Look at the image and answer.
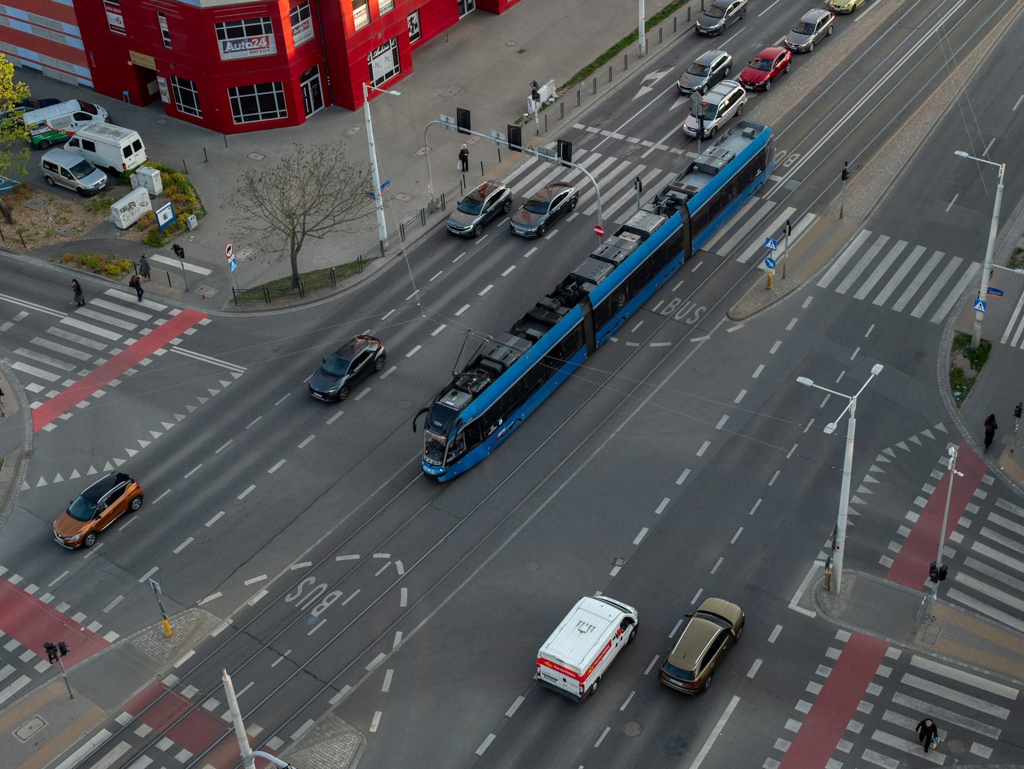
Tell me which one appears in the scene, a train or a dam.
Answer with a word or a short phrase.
train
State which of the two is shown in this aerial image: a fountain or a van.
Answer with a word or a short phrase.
van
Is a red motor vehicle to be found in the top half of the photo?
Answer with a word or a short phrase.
Yes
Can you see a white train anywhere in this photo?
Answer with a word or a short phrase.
No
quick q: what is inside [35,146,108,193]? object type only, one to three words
vehicle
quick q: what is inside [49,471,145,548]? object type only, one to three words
car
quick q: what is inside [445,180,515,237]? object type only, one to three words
car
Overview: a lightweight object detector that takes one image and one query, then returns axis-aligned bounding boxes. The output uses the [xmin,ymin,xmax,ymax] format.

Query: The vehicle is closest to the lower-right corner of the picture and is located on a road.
[655,599,745,698]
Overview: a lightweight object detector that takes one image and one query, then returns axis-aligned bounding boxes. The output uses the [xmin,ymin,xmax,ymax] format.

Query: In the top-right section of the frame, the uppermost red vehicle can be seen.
[739,46,796,90]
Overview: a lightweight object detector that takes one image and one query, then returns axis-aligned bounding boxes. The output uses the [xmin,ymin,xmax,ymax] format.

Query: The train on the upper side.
[402,124,771,482]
